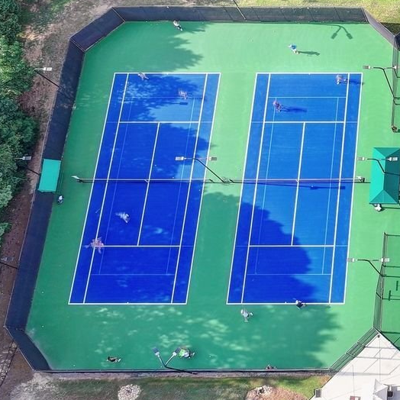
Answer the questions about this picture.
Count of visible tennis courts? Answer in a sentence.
The photo contains 2 tennis courts.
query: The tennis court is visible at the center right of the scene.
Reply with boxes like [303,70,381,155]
[227,74,362,304]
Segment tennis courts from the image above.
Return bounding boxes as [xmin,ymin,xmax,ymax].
[227,74,362,304]
[69,74,219,304]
